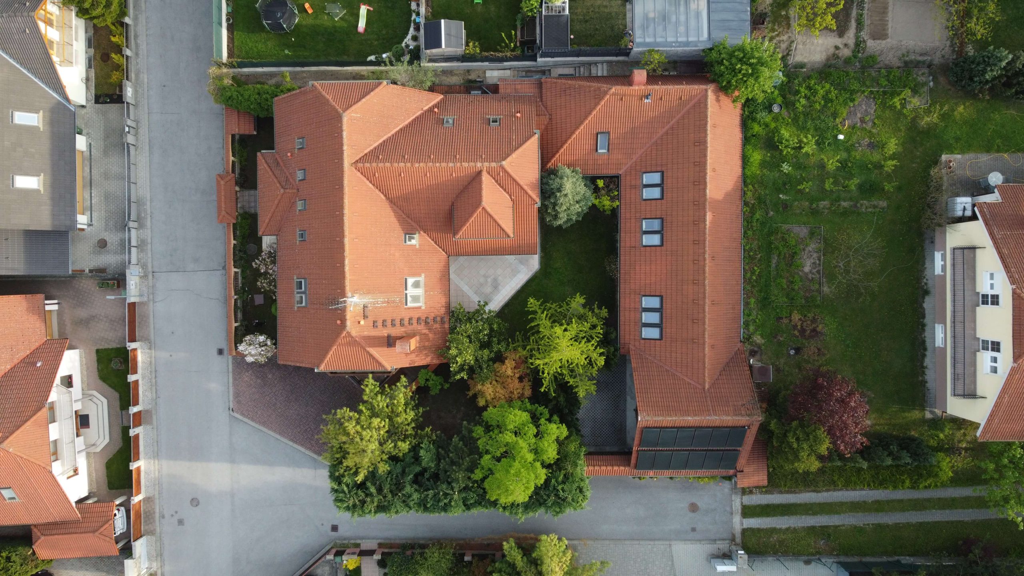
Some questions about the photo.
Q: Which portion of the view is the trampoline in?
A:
top left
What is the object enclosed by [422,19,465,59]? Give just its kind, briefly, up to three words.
shed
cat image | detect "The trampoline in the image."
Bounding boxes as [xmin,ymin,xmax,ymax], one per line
[252,0,303,36]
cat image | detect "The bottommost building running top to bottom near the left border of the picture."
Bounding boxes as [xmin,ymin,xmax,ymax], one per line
[0,288,108,527]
